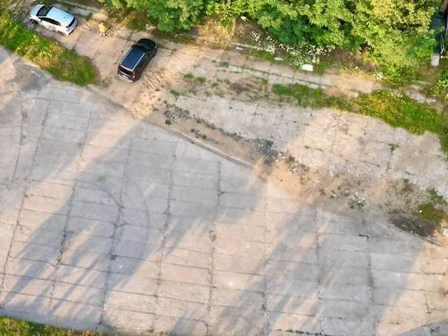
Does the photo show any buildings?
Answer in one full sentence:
No, the scene contains no building.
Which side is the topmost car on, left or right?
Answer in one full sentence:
It is on the left.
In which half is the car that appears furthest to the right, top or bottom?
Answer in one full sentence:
The top half of the photo is where the car that appears furthest to the right is.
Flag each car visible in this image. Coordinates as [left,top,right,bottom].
[114,29,162,81]
[25,0,81,35]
